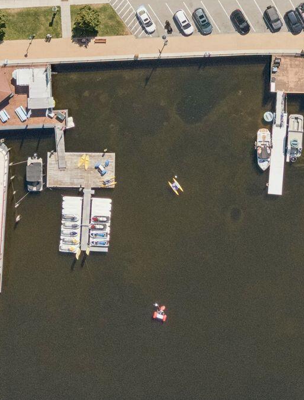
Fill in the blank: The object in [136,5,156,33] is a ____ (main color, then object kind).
white car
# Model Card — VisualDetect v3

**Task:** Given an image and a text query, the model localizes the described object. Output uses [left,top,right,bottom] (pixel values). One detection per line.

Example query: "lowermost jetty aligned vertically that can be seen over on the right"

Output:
[266,113,287,195]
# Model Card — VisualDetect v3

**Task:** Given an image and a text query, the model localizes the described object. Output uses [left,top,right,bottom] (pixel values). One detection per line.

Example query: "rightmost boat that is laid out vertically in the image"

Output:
[287,113,304,164]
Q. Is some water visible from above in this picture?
Yes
